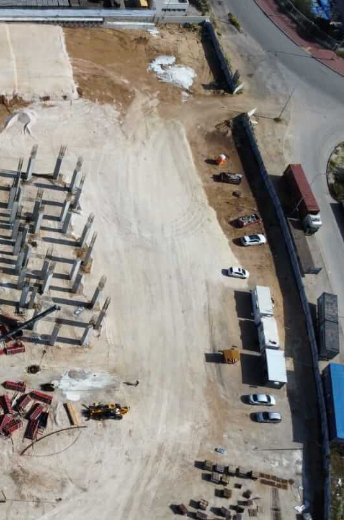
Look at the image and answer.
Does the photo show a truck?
Yes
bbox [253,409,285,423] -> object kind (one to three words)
car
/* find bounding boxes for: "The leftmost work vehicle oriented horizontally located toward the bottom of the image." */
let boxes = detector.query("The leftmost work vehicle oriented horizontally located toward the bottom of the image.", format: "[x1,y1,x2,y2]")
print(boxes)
[80,401,133,422]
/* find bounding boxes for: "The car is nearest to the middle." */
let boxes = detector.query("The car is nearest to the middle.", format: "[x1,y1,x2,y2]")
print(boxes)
[226,265,252,279]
